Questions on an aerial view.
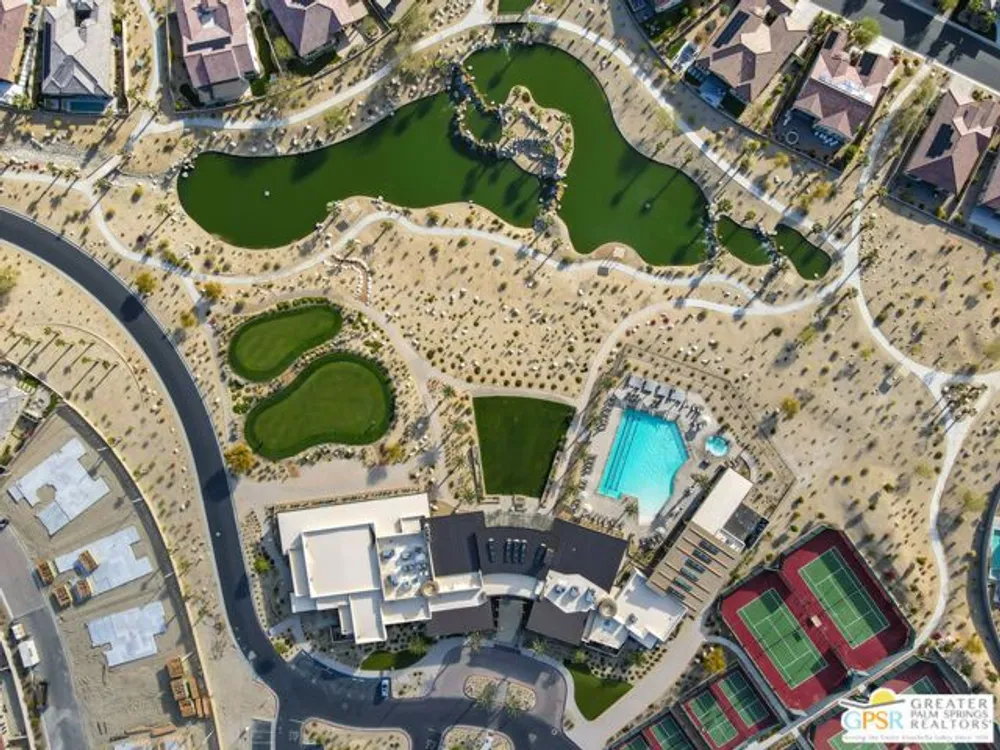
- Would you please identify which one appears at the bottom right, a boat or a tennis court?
tennis court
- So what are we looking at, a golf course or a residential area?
residential area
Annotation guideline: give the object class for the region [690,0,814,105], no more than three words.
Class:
house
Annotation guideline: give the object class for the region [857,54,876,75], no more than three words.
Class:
solar panel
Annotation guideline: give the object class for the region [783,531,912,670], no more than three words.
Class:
tennis court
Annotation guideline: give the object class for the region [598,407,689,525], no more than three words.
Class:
swimming pool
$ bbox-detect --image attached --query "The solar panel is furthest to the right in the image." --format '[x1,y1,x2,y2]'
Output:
[928,124,958,157]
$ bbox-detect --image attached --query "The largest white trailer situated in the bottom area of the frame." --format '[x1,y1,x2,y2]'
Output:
[18,636,47,666]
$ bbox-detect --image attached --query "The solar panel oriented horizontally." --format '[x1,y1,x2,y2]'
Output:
[188,36,230,53]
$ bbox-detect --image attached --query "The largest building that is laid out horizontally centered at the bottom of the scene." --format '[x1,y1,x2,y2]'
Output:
[277,489,688,653]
